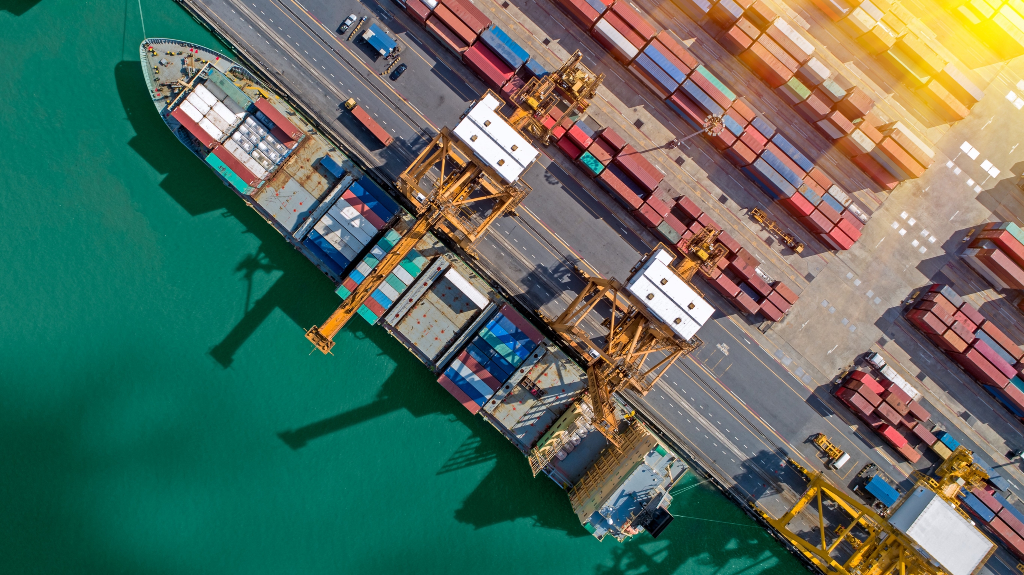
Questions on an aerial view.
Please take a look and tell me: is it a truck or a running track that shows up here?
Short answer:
truck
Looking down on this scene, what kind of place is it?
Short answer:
port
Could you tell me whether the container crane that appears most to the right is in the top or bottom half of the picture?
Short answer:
bottom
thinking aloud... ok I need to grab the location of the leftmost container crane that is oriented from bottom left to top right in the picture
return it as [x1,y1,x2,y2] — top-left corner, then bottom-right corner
[297,77,557,362]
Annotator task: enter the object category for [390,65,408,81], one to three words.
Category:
car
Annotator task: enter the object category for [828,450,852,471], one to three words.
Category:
vehicle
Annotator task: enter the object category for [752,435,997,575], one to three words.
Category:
container crane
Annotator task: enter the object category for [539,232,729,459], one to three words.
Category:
container crane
